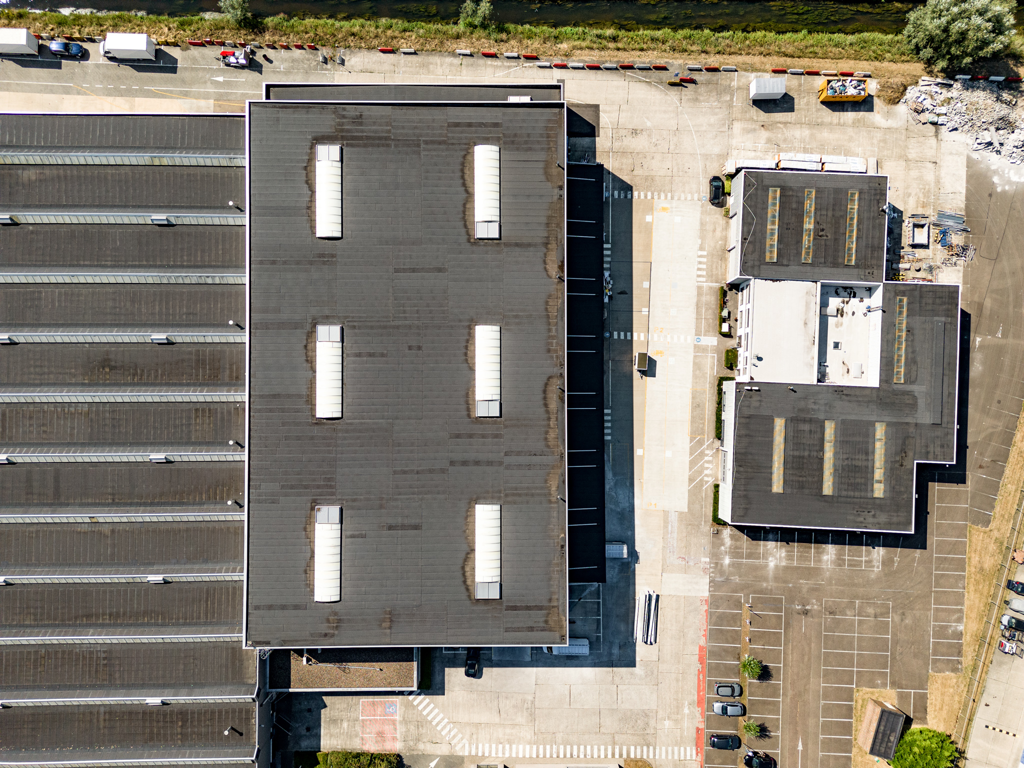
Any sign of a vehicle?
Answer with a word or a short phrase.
Yes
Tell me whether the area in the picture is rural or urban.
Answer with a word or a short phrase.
urban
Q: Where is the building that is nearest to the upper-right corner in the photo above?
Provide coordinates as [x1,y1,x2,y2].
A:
[725,169,889,285]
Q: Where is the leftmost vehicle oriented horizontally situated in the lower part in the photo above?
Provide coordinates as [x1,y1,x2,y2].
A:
[545,640,590,660]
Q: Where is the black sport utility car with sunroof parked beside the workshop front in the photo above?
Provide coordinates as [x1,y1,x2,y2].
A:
[708,175,725,206]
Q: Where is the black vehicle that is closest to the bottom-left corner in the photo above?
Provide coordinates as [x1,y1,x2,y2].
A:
[465,648,480,679]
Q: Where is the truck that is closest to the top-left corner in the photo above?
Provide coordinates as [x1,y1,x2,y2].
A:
[0,32,46,60]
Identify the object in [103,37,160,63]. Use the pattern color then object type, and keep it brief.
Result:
white truck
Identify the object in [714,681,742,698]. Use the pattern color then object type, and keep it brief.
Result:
gray car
